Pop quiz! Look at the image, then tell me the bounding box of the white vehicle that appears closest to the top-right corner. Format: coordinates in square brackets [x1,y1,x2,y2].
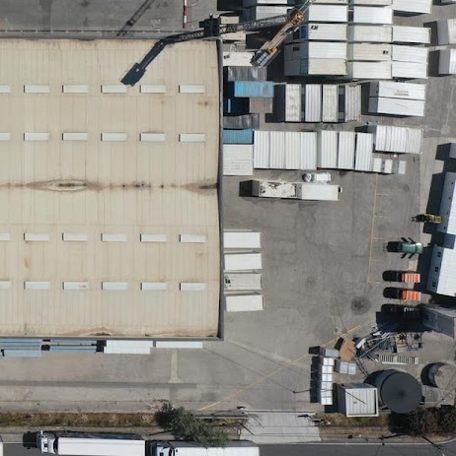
[297,170,331,184]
